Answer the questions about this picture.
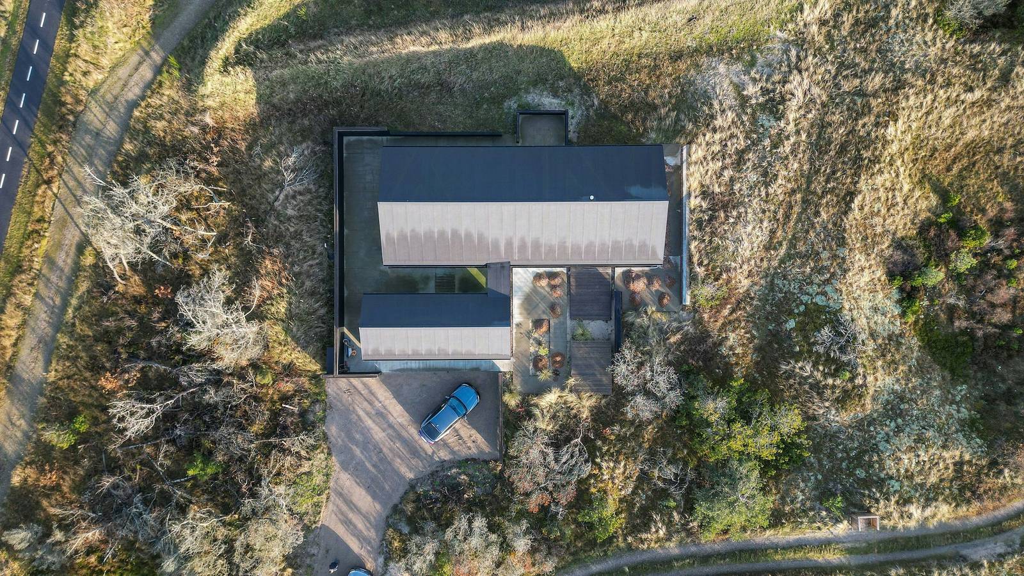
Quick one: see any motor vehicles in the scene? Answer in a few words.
Yes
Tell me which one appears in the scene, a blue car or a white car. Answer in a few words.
blue car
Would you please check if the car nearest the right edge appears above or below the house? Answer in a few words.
below it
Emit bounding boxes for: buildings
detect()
[359,145,670,362]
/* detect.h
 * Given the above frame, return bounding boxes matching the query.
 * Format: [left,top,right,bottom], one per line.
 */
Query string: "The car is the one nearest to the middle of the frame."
[418,382,481,447]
